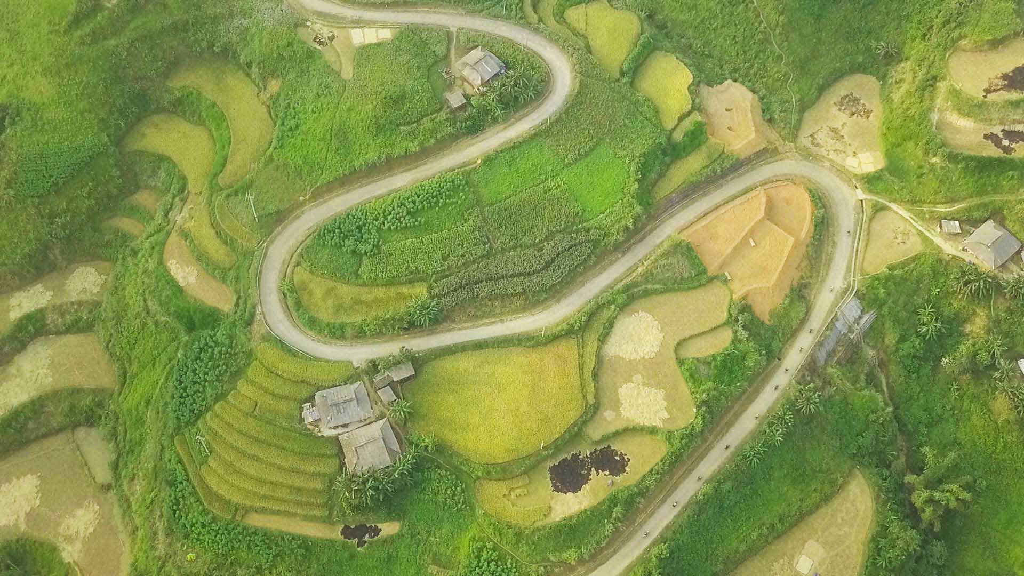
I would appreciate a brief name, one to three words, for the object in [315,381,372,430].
house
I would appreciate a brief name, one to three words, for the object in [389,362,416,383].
shed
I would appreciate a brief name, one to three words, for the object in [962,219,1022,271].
house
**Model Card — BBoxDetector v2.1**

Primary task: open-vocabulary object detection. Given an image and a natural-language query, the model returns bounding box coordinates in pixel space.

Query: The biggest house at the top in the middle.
[454,46,505,89]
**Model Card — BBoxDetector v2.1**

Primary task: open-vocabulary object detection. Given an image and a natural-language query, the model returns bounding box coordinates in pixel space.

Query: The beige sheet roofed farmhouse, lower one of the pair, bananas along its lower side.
[339,417,401,474]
